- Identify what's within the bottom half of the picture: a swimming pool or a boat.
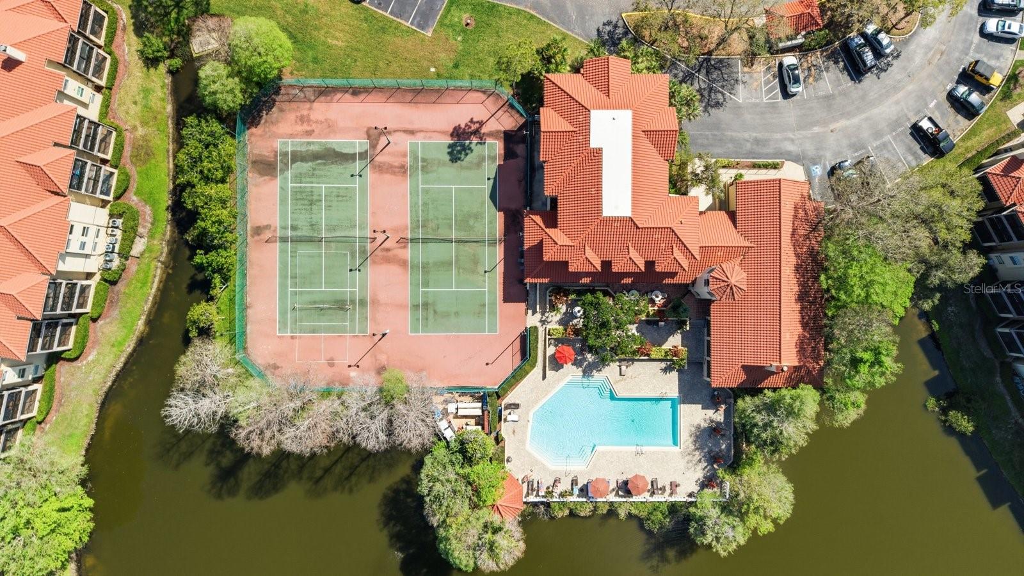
swimming pool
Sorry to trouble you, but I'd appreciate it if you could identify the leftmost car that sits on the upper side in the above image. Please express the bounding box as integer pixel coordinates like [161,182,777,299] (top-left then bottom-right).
[781,54,807,95]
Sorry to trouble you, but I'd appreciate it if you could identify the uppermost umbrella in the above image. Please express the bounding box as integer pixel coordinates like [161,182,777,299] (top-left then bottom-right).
[555,345,575,364]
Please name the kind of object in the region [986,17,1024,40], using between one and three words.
car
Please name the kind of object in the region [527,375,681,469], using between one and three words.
swimming pool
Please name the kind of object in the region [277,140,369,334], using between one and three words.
tennis court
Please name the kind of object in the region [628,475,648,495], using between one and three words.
umbrella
